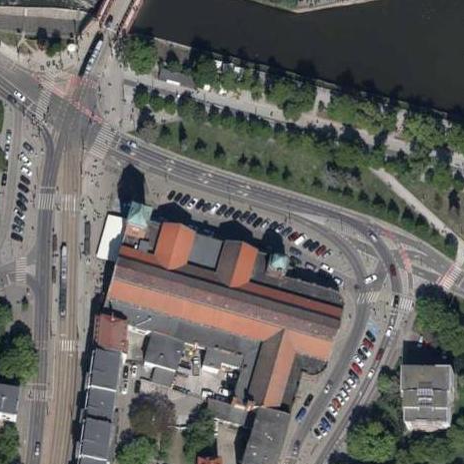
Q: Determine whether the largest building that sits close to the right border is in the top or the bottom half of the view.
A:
bottom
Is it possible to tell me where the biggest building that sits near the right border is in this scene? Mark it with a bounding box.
[397,366,457,435]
